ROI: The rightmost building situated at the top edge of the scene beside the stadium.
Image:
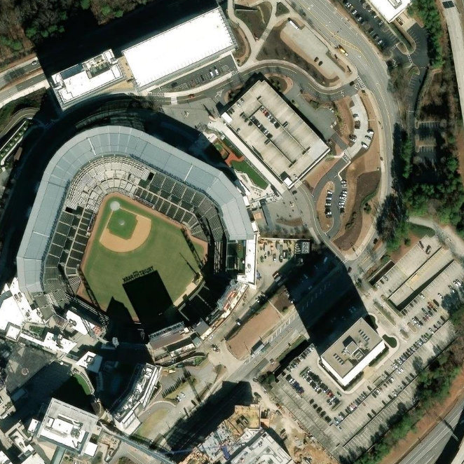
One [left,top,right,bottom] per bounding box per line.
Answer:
[124,8,239,96]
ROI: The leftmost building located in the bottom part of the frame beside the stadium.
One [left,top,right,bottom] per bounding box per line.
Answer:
[0,278,45,343]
